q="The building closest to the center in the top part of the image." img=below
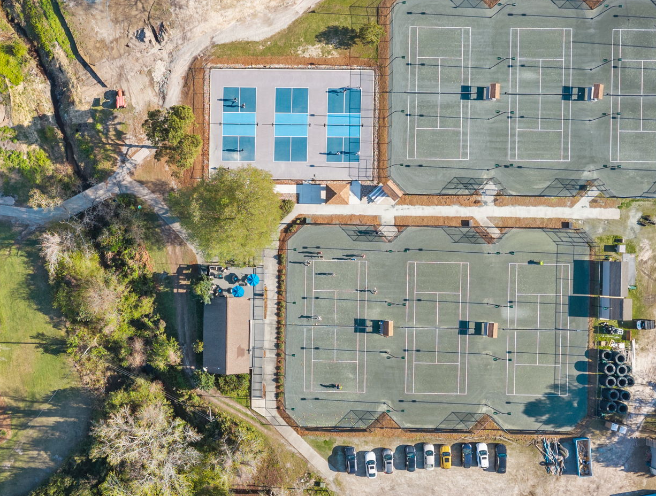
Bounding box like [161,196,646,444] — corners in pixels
[324,183,350,205]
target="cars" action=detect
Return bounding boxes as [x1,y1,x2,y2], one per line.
[474,440,489,468]
[363,449,377,477]
[459,441,473,467]
[439,443,452,468]
[380,446,394,472]
[422,441,434,468]
[344,445,356,472]
[493,441,508,471]
[403,443,416,470]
